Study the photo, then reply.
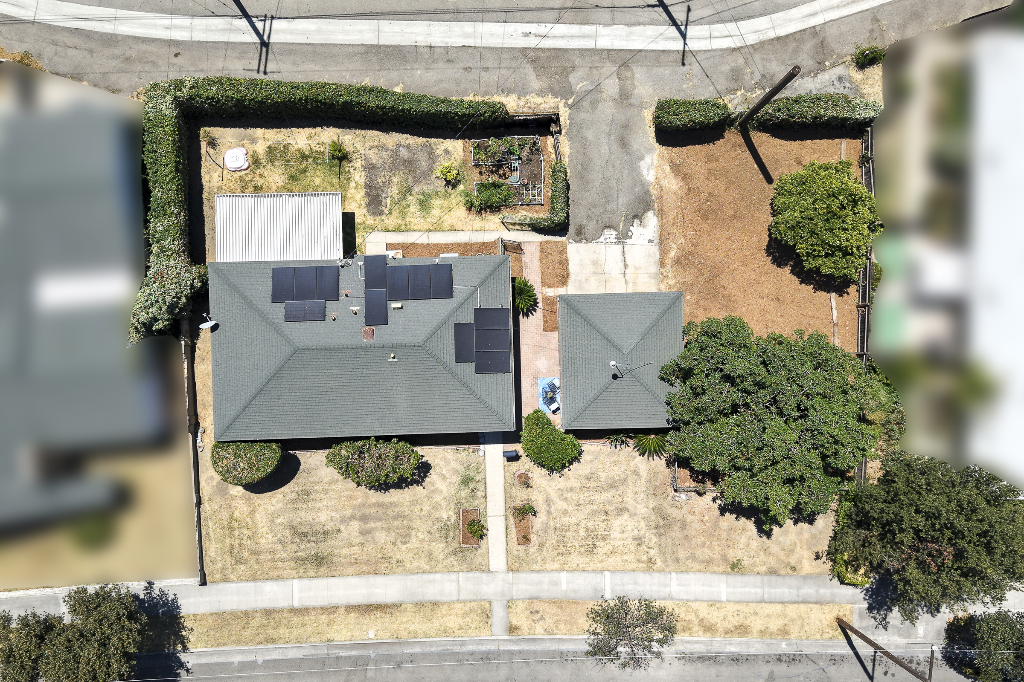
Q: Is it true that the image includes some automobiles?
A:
No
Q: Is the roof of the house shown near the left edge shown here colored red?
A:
No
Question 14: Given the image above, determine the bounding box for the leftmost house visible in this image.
[0,113,174,520]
